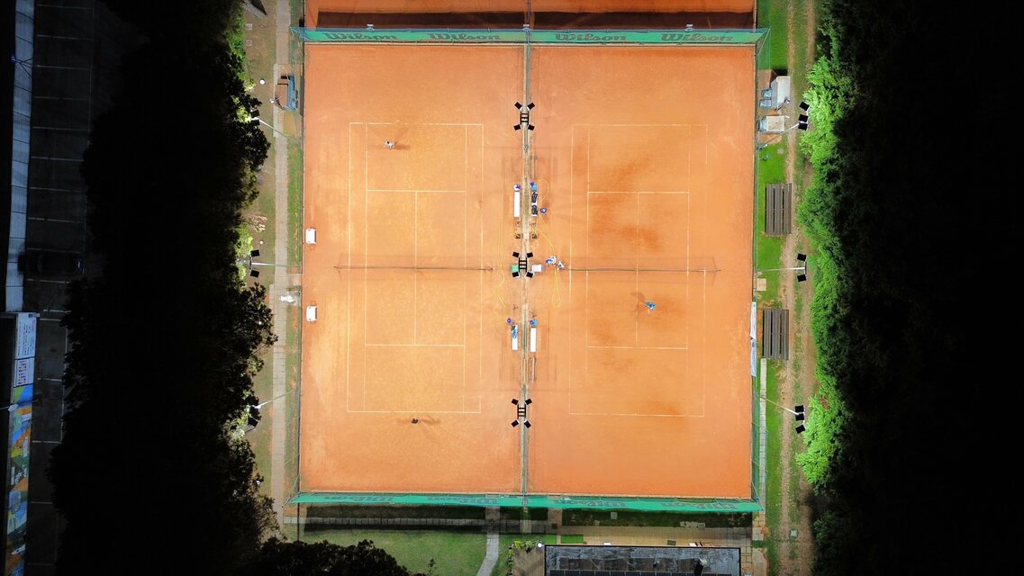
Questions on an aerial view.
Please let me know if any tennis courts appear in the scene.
Yes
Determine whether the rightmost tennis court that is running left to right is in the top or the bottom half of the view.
top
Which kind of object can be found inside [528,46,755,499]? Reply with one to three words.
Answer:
tennis court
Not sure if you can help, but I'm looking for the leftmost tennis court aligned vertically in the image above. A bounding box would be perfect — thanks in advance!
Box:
[300,45,521,495]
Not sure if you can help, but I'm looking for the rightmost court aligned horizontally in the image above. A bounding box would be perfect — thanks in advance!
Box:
[531,0,757,34]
